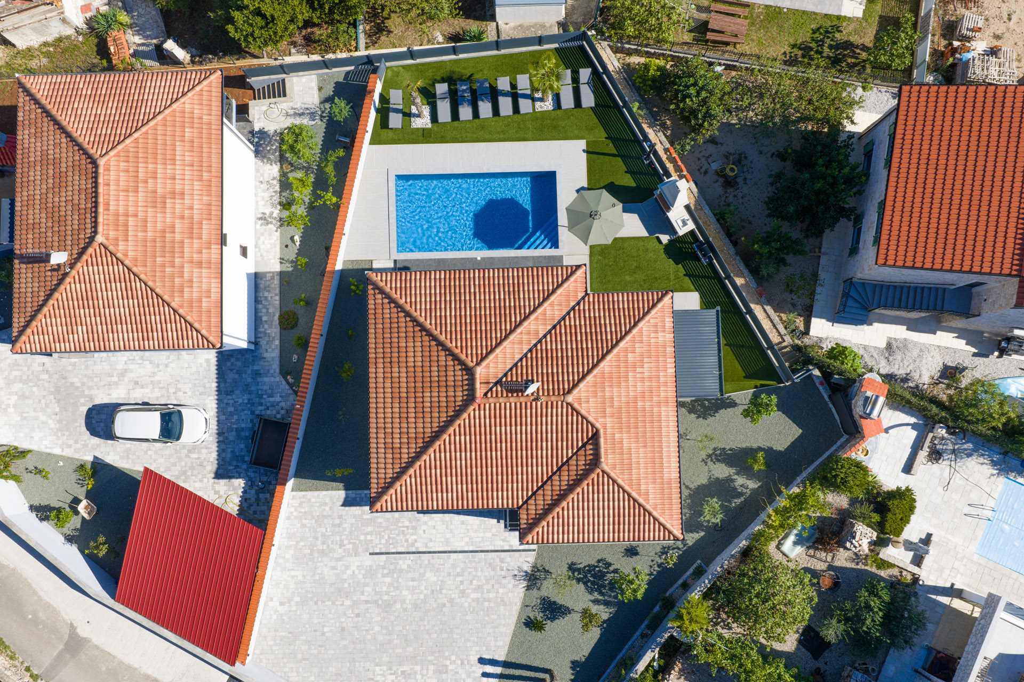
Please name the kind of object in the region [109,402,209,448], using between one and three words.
car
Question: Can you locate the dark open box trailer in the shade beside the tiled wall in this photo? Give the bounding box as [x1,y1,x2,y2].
[250,418,290,488]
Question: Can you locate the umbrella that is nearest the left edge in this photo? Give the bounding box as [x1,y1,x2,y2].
[566,189,624,246]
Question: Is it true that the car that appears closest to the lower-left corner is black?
No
